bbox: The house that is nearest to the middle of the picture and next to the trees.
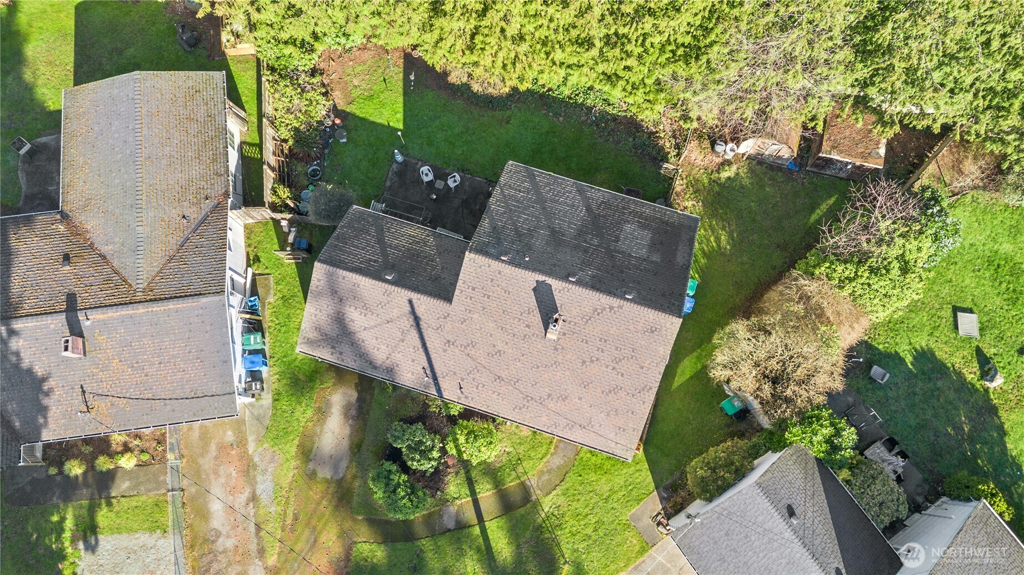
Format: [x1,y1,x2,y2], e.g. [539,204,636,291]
[296,157,700,462]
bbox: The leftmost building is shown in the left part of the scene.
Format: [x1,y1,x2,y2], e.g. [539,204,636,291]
[0,65,260,470]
